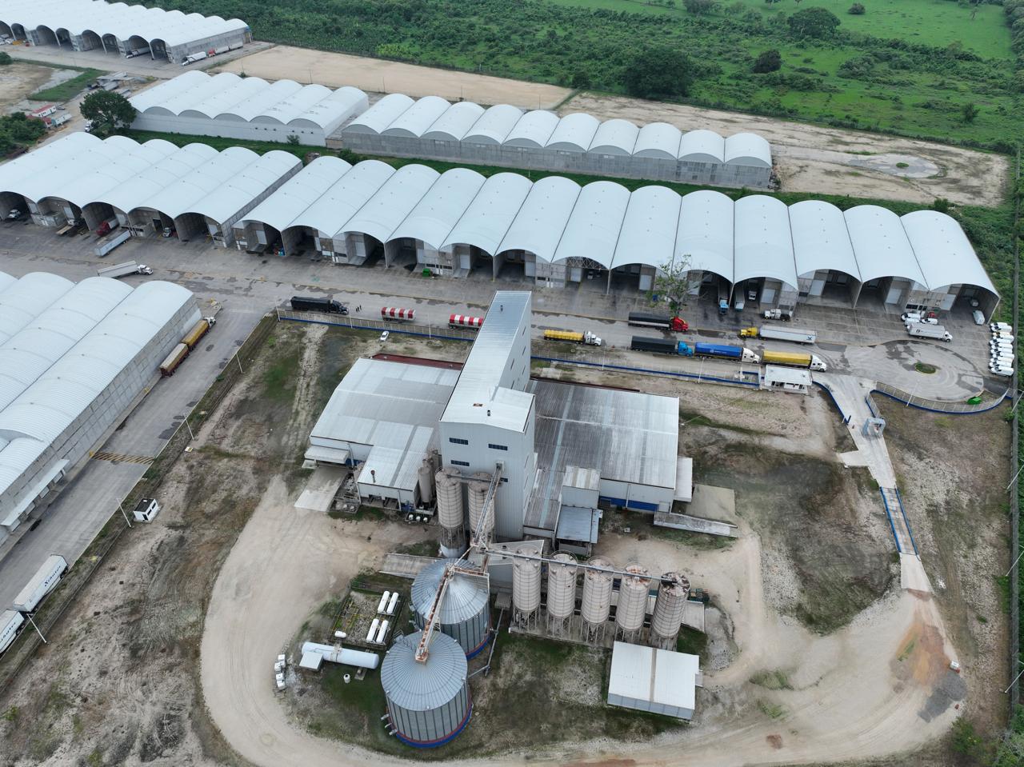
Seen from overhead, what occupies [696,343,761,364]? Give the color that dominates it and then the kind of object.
blue truck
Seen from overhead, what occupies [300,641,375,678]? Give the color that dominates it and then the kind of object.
white storage tank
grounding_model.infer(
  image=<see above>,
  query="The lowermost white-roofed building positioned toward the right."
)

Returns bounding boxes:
[607,640,702,722]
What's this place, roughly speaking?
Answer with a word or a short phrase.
industrial area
